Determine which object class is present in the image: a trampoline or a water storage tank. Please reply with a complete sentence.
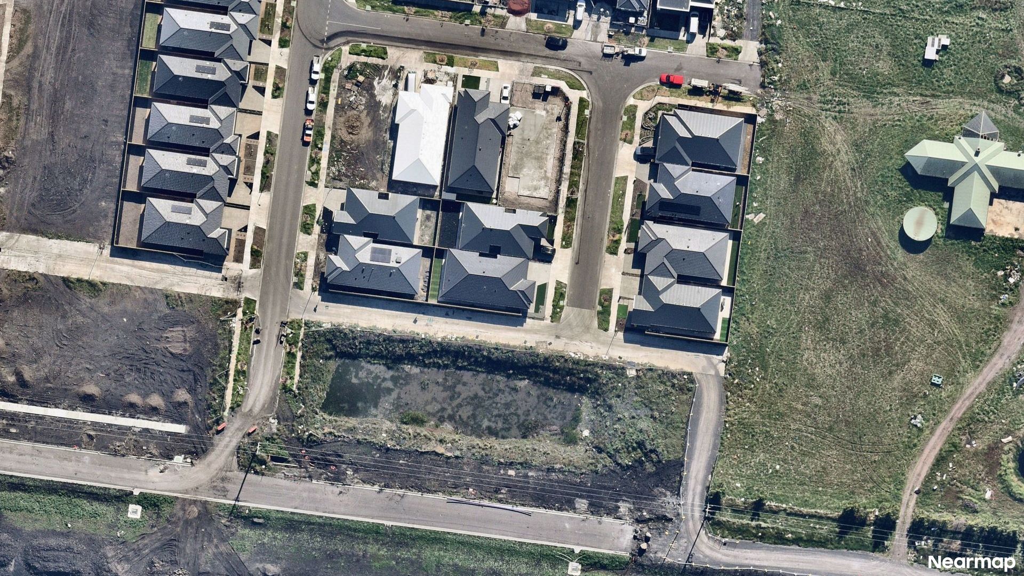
It is a water storage tank that can be seen here.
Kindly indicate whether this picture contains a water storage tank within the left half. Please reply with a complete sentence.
No, no water storage tank can be made out within the left half.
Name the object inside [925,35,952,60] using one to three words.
shed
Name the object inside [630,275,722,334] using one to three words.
house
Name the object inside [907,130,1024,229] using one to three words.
house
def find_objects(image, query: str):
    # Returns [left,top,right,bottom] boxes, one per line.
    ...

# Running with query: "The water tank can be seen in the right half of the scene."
[904,207,938,240]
